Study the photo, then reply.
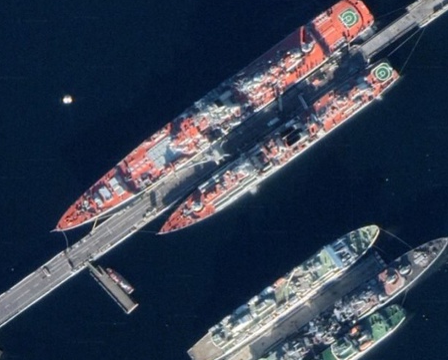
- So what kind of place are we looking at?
port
